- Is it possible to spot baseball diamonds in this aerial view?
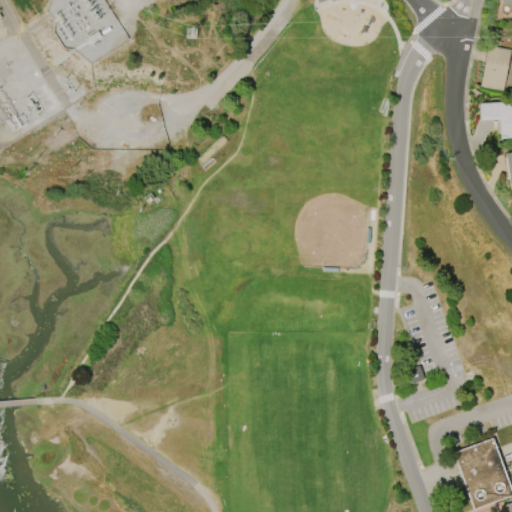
Yes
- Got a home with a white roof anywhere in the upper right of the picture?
Yes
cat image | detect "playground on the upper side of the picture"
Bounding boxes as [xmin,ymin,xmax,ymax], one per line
[320,0,386,46]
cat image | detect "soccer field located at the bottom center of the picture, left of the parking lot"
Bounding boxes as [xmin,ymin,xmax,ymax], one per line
[228,332,391,512]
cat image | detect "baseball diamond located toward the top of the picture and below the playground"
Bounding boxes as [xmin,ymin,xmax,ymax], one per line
[235,130,371,268]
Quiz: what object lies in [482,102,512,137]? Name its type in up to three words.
house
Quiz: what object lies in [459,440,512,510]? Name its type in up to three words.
building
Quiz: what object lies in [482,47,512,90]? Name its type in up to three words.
house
